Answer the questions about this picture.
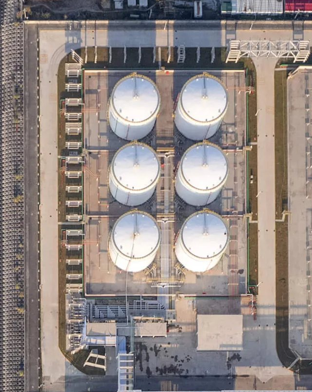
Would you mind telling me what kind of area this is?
industrial area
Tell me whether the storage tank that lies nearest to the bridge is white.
Yes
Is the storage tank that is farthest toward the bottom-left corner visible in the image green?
No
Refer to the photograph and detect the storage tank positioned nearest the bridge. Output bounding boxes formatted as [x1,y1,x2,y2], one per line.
[175,69,231,141]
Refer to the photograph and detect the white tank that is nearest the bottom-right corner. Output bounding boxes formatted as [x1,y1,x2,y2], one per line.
[175,205,231,272]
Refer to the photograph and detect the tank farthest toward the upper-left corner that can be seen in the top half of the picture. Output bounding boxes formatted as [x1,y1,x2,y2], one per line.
[108,69,162,141]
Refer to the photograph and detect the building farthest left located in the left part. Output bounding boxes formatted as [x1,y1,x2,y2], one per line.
[87,319,116,337]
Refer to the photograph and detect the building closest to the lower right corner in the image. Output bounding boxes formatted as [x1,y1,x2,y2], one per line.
[196,315,243,362]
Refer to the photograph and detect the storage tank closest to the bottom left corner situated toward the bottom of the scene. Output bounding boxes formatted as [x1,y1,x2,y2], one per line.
[108,205,162,272]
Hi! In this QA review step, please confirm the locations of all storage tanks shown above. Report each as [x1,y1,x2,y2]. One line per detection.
[175,205,231,272]
[108,69,162,141]
[175,69,231,141]
[108,137,162,207]
[175,137,231,207]
[108,205,162,272]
